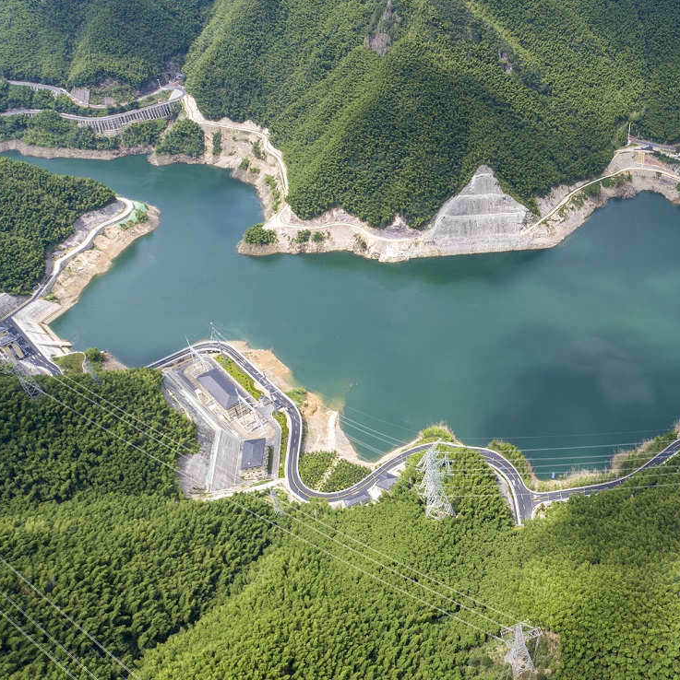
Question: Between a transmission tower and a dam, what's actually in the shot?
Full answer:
The one in the frame is a transmission tower.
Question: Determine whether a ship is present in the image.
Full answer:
No, I can't see a single ship in this photo.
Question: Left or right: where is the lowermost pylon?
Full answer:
The lowermost pylon sits on the right side.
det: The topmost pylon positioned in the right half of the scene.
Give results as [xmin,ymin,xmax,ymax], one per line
[417,448,455,516]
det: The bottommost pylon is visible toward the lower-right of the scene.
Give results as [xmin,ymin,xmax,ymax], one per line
[496,626,541,677]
